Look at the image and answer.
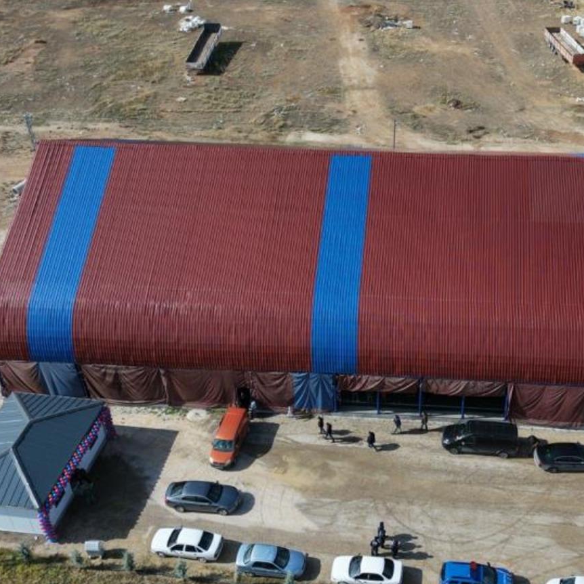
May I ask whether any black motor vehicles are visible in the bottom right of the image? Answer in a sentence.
Yes, in the bottom right of the image there is a black motor vehicle.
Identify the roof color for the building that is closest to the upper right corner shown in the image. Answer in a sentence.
From above, the roof of the building that is closest to the upper right corner looks red.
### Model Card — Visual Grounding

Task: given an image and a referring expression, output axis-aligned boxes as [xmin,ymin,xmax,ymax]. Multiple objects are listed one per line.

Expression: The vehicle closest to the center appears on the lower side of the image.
[211,402,250,463]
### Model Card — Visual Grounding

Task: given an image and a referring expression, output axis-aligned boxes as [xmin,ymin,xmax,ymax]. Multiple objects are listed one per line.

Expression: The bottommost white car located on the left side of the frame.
[149,525,226,565]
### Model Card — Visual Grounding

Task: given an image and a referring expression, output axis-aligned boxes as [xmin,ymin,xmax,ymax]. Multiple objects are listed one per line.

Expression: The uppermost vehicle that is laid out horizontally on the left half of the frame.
[163,480,243,517]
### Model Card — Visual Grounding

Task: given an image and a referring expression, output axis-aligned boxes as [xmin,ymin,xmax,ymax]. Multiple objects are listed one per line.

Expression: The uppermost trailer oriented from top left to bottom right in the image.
[544,25,584,65]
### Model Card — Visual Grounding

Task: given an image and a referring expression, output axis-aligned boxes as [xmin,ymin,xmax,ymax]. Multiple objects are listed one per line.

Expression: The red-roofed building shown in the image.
[0,140,584,427]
